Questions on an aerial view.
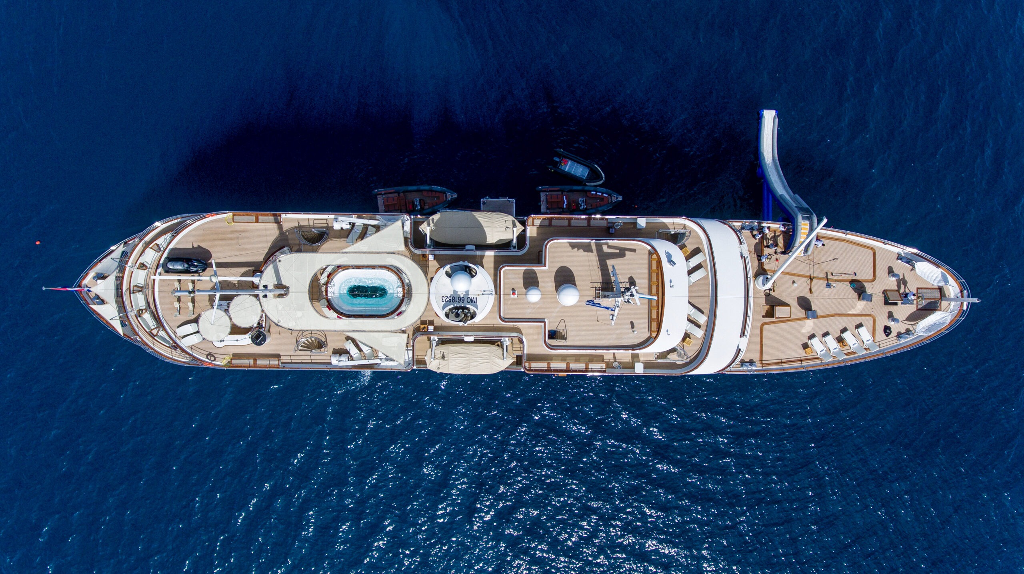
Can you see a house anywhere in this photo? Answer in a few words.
No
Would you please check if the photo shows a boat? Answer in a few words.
Yes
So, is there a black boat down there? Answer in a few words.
Yes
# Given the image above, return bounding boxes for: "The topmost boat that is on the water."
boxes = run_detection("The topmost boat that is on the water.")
[544,149,607,183]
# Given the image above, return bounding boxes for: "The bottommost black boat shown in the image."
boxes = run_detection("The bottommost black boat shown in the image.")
[165,257,211,273]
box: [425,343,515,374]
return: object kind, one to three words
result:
boat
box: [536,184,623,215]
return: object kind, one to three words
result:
boat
